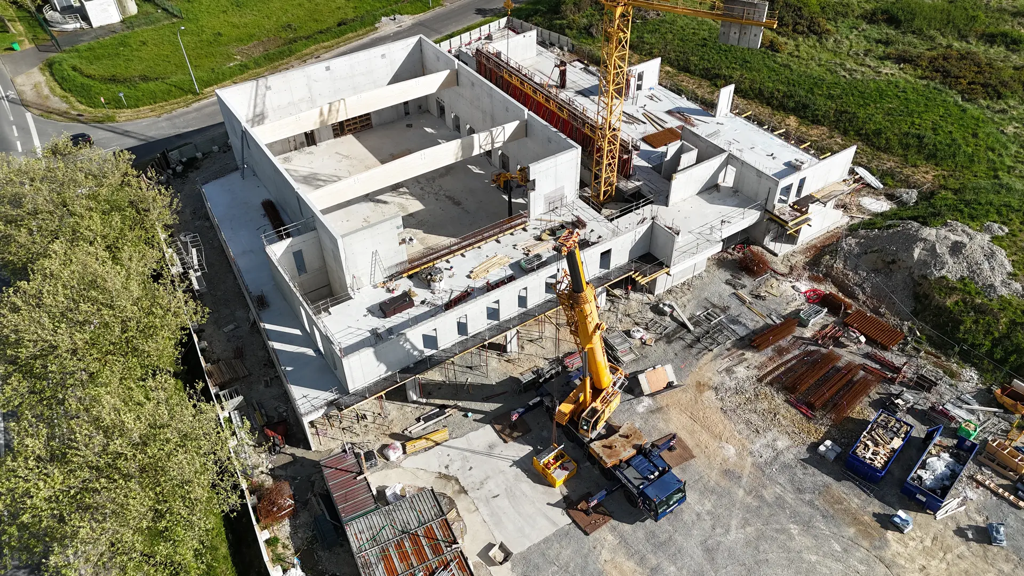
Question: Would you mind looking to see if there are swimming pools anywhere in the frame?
No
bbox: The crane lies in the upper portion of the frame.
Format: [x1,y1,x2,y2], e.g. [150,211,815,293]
[564,0,772,214]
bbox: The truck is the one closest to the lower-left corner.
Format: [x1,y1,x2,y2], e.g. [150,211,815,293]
[245,411,299,456]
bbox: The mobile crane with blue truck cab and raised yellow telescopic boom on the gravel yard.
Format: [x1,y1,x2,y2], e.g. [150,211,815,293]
[509,235,693,524]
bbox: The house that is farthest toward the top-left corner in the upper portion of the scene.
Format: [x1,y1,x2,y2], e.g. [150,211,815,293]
[26,0,89,34]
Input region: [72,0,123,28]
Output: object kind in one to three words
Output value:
shed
